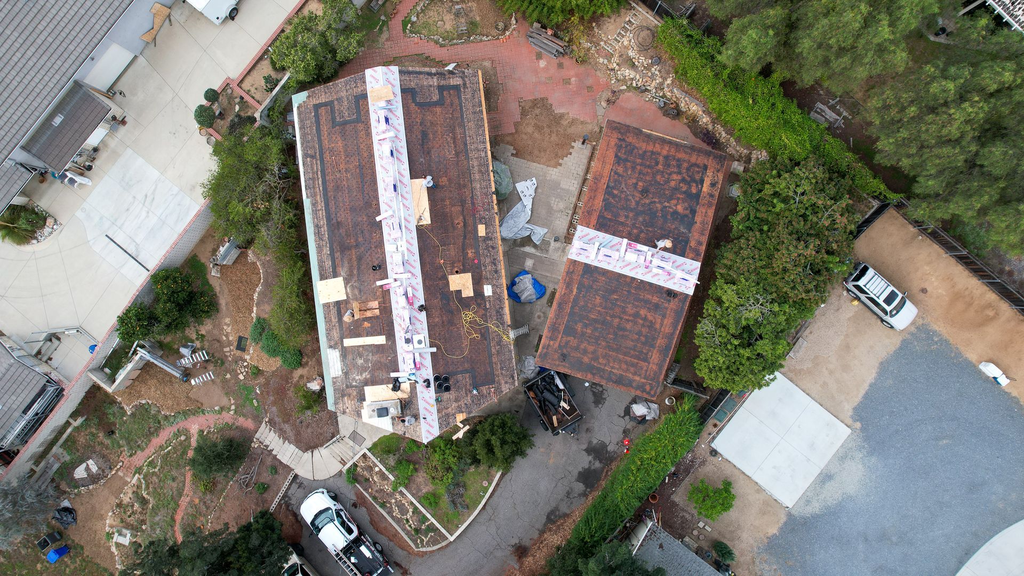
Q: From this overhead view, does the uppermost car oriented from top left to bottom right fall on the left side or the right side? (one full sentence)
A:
The uppermost car oriented from top left to bottom right is on the right side of the image.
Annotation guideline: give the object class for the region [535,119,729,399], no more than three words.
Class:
building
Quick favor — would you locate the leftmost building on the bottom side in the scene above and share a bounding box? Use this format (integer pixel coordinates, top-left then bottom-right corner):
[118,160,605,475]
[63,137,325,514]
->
[0,339,68,439]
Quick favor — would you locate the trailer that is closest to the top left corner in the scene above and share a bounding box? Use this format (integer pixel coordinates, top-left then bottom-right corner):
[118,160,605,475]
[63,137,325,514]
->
[185,0,247,26]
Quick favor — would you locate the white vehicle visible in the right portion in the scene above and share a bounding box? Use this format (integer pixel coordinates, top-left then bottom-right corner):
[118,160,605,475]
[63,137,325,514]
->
[843,265,919,332]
